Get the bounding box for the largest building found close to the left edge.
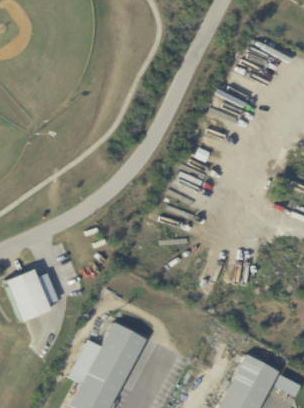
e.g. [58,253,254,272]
[6,270,51,322]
